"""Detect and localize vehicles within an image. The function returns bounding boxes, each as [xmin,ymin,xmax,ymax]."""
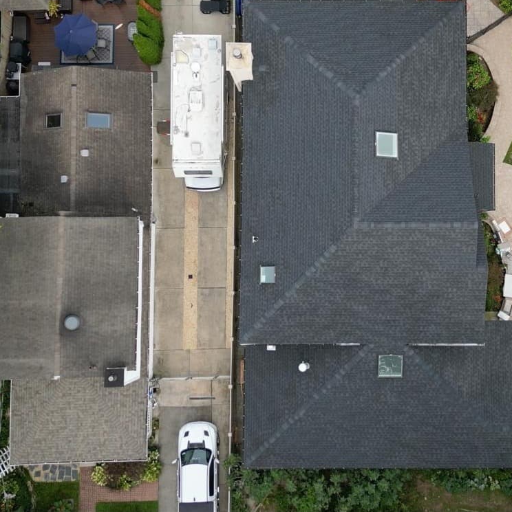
[172,419,222,512]
[172,32,230,193]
